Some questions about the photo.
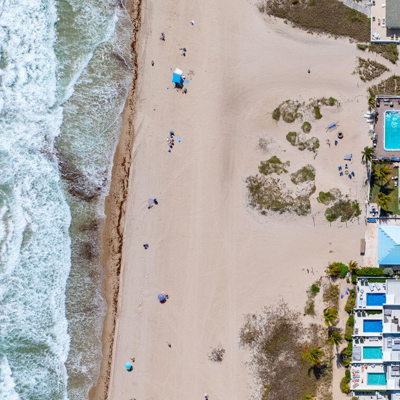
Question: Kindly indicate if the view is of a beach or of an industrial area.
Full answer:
The area seen from above is a beach.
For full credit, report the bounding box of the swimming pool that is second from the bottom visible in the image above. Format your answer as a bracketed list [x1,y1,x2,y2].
[362,346,383,360]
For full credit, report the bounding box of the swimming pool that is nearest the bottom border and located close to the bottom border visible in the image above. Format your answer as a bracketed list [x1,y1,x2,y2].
[366,372,387,386]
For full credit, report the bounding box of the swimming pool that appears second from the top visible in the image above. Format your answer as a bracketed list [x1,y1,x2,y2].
[366,292,386,307]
